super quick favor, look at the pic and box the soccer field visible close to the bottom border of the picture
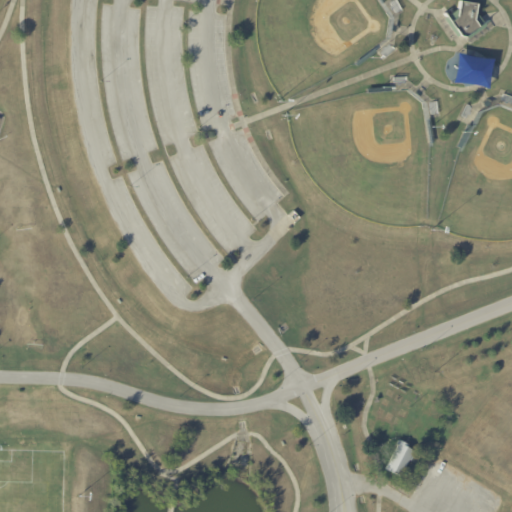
[0,448,66,512]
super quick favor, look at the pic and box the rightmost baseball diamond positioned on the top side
[438,106,512,240]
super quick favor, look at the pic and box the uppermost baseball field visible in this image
[258,0,388,98]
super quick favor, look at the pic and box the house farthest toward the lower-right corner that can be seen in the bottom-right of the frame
[386,440,414,474]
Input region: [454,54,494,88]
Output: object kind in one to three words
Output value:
building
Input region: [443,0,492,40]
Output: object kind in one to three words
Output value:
building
